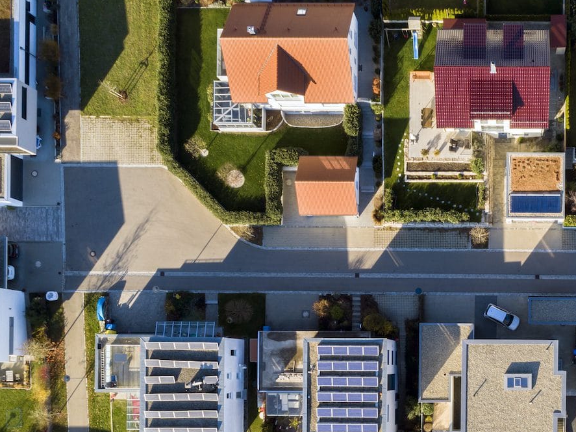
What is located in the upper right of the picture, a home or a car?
home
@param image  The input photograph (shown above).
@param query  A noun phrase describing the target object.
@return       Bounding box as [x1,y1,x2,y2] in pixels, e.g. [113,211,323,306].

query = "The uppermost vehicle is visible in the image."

[9,241,29,259]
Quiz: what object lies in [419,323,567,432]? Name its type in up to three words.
house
